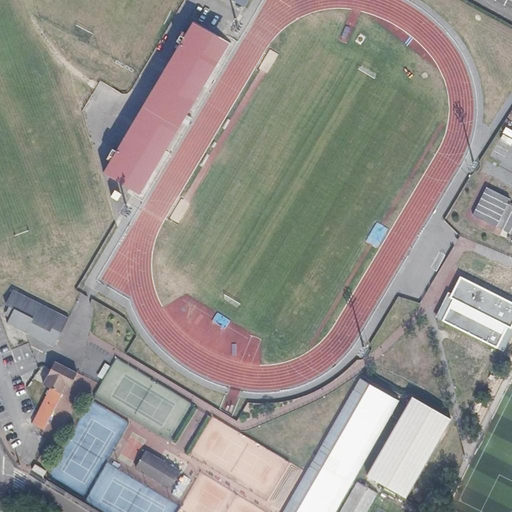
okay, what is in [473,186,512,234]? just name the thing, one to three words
building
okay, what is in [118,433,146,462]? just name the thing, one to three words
sports court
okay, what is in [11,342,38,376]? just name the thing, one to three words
shed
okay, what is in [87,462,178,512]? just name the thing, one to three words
tennis court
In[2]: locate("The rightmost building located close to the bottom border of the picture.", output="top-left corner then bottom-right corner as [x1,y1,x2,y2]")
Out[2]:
[368,398,450,498]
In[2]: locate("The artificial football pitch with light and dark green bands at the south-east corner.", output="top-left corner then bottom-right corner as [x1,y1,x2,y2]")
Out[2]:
[449,382,512,512]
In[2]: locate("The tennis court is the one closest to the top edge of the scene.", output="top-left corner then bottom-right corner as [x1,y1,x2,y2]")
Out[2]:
[95,357,193,440]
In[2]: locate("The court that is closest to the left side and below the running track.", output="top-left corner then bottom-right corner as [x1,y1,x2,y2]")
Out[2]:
[48,402,127,496]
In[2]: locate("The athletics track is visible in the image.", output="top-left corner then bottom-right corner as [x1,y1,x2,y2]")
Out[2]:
[100,0,474,390]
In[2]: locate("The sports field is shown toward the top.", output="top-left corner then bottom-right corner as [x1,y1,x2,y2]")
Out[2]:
[152,8,449,364]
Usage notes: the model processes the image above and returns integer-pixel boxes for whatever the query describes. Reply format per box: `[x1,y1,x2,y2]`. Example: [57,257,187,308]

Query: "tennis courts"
[48,402,127,496]
[95,357,193,440]
[87,462,178,512]
[226,495,267,512]
[190,418,290,499]
[176,474,234,512]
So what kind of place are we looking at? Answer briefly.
sports ground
